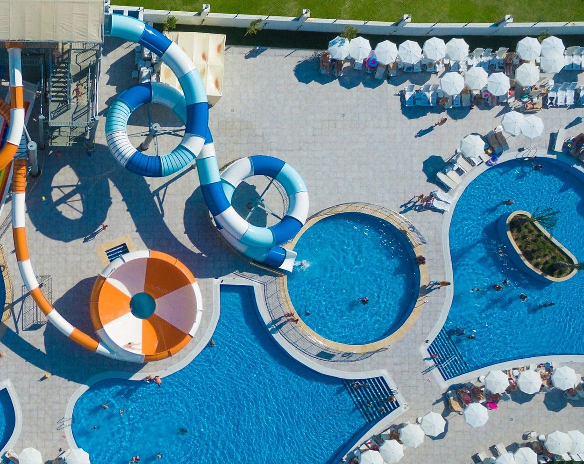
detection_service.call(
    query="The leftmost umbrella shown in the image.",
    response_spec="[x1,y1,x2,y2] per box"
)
[19,446,43,464]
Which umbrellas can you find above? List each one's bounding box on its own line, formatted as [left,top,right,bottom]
[463,67,487,92]
[454,133,484,159]
[536,37,563,58]
[535,56,563,76]
[460,402,488,428]
[437,72,464,98]
[514,368,542,394]
[515,116,544,141]
[373,40,397,65]
[478,368,508,394]
[396,41,422,67]
[398,423,423,448]
[325,36,350,61]
[549,366,575,392]
[537,429,568,455]
[488,450,515,464]
[419,36,445,62]
[444,39,467,62]
[377,439,402,463]
[19,446,43,464]
[565,428,584,453]
[509,445,536,464]
[347,37,371,61]
[509,64,538,89]
[67,448,91,464]
[494,112,522,137]
[418,410,444,435]
[516,37,540,62]
[481,71,510,97]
